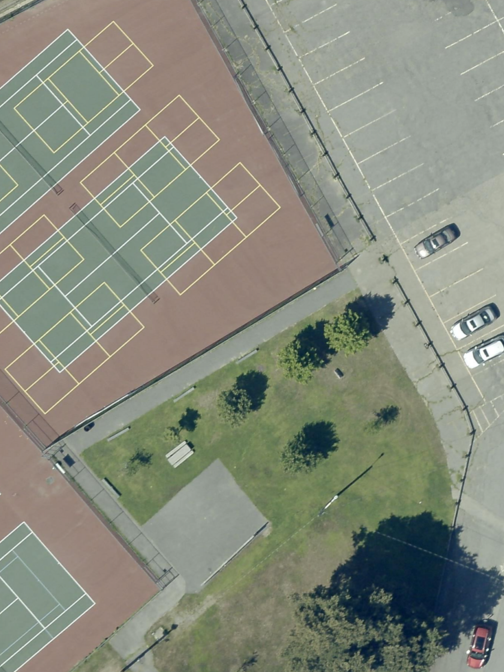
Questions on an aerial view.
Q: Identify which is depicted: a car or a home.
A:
car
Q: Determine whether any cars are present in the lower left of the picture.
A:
No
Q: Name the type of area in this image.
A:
sports ground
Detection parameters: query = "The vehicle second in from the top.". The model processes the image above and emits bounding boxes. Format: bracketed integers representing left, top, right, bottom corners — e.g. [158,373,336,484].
[452,304,497,338]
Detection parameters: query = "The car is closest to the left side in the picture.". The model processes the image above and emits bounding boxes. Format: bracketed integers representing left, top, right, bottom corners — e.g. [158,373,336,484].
[414,224,460,259]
